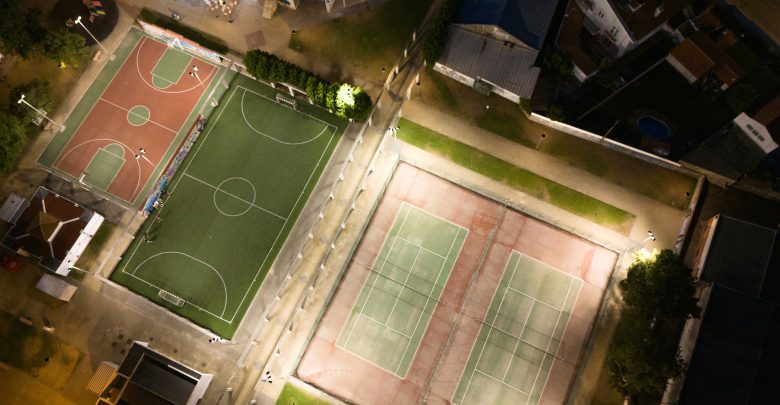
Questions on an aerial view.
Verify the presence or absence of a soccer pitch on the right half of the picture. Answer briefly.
No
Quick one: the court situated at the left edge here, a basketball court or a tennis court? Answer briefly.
basketball court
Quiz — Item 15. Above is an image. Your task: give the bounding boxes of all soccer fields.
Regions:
[112,80,348,339]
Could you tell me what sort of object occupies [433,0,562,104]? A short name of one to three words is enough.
building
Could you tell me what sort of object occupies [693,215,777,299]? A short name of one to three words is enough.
building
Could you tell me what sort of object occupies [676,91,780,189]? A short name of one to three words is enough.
house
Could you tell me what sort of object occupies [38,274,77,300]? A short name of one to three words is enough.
shed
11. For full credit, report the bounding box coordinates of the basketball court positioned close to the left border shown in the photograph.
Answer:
[33,27,225,217]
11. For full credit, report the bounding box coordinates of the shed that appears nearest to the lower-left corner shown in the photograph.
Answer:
[86,360,121,395]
